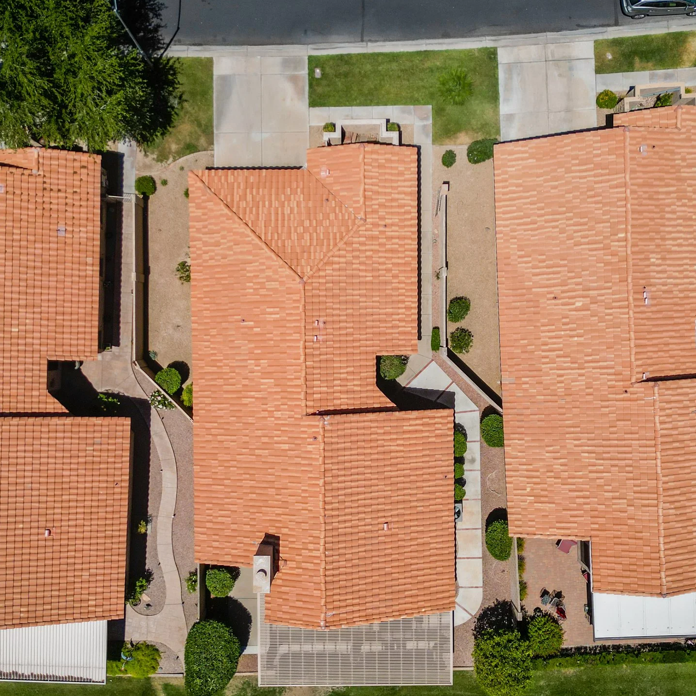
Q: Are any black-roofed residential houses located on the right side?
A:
No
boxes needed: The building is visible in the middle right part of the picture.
[495,102,696,595]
